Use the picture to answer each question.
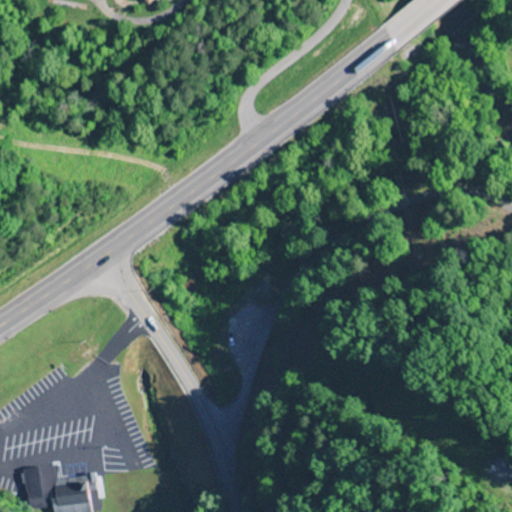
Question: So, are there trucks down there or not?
Yes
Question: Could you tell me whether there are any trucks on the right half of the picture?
Yes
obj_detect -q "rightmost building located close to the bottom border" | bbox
[54,482,92,512]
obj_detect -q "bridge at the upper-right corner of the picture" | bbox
[380,0,462,52]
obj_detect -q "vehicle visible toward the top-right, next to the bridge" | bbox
[355,37,398,72]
